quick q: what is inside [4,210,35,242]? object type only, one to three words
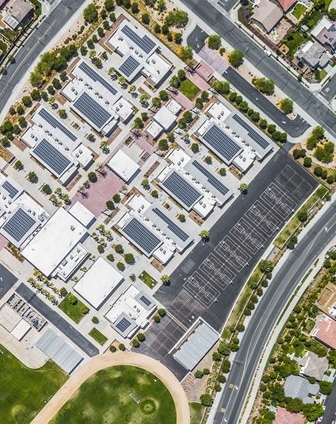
solar array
